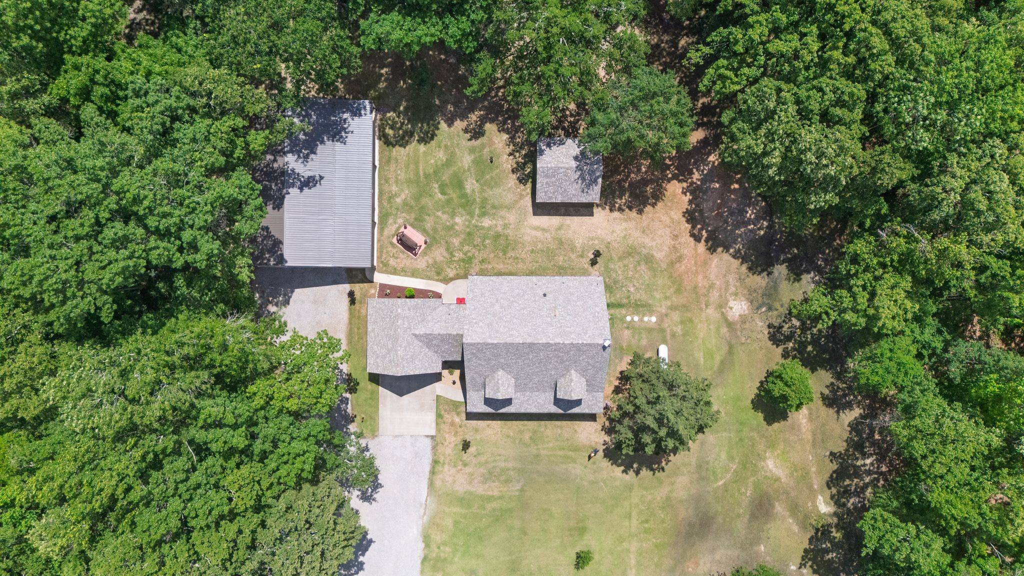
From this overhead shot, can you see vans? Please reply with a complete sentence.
No, no van is visible in the scene.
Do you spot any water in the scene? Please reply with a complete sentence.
No, there's no water in this view.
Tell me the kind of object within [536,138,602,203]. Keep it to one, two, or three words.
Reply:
shed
